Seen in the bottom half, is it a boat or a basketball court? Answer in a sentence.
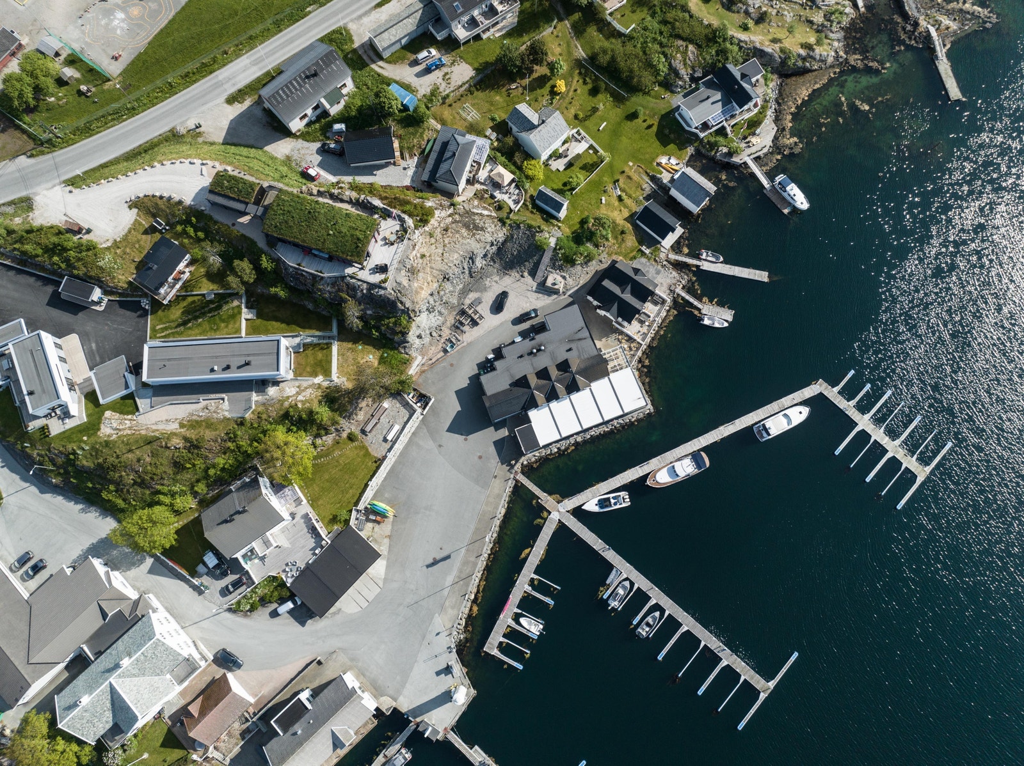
What appears in the bottom half is a boat.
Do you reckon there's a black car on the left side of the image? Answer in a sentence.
Yes, looking on the left side of the image, one can make out a black car.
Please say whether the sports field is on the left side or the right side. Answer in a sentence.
It is on the left.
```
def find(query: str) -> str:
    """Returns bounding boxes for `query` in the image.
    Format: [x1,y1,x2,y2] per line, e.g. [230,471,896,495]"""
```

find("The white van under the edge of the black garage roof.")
[271,595,304,619]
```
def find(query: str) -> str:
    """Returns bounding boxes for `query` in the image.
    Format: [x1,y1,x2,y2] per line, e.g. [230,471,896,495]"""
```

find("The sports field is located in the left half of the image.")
[116,0,299,89]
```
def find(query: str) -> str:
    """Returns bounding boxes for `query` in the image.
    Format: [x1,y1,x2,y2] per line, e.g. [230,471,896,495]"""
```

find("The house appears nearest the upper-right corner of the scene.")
[674,57,765,143]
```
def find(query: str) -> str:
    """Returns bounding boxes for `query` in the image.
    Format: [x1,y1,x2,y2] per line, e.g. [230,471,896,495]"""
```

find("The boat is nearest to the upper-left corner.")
[78,85,96,98]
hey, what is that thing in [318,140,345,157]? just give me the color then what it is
black car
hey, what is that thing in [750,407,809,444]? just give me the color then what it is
white boat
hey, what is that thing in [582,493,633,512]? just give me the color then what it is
white boat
